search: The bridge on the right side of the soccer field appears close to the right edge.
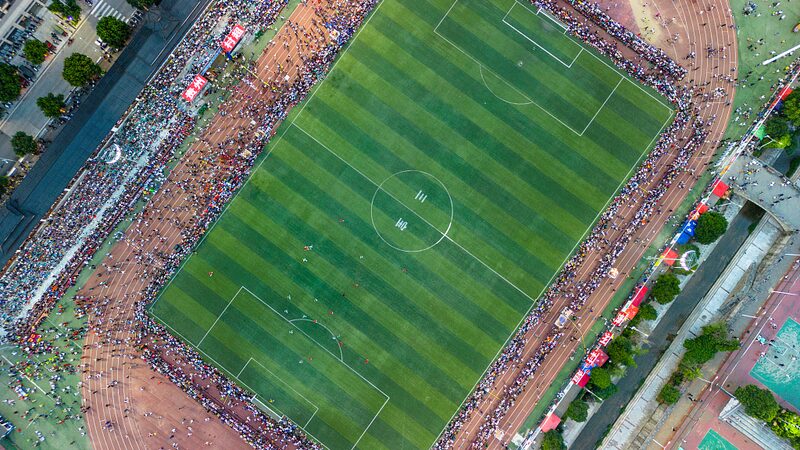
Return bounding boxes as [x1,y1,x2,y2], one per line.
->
[728,150,800,230]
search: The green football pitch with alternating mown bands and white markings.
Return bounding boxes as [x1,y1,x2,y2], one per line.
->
[137,0,687,450]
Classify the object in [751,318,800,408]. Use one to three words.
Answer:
basketball court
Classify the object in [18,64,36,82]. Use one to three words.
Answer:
car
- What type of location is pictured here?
sports ground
